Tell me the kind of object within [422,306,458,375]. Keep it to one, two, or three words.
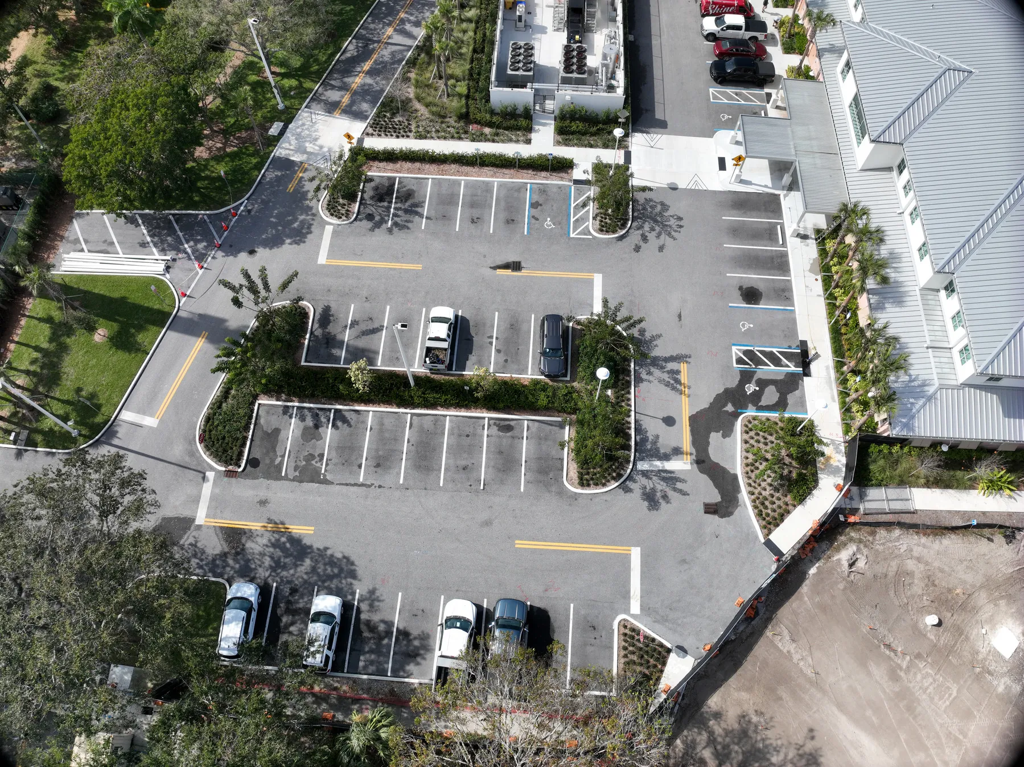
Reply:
truck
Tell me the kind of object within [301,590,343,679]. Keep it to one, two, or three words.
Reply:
car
